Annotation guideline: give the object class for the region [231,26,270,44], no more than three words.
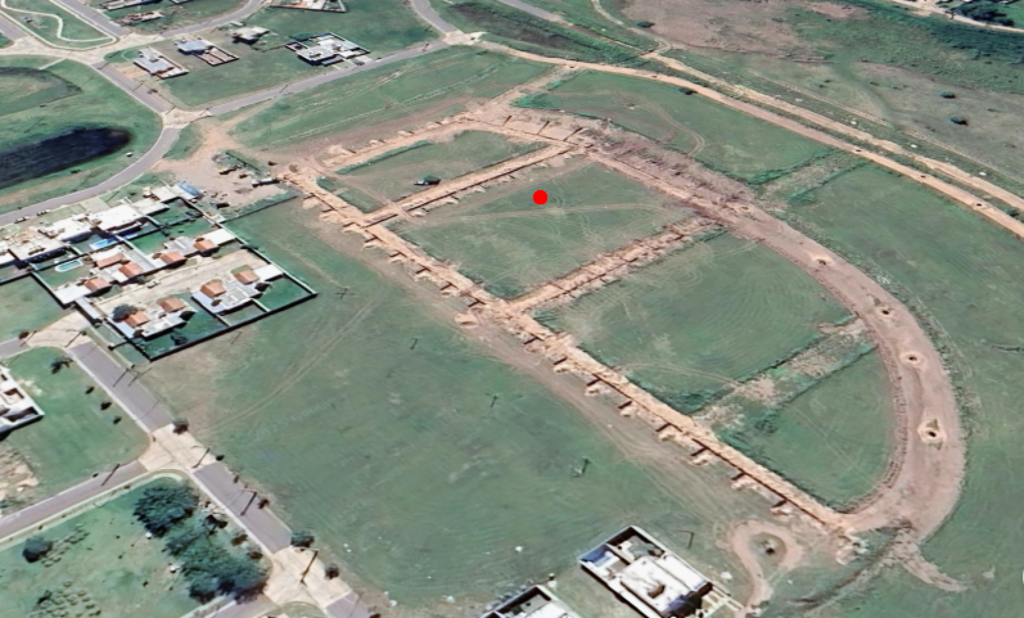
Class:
house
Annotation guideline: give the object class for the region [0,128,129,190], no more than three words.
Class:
pond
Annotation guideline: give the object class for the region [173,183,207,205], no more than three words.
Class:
shed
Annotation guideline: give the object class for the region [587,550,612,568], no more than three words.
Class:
swimming pool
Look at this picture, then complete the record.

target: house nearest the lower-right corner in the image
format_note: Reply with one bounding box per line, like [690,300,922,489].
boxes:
[608,545,704,618]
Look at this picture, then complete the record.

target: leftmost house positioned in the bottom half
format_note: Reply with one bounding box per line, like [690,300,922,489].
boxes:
[0,369,49,436]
